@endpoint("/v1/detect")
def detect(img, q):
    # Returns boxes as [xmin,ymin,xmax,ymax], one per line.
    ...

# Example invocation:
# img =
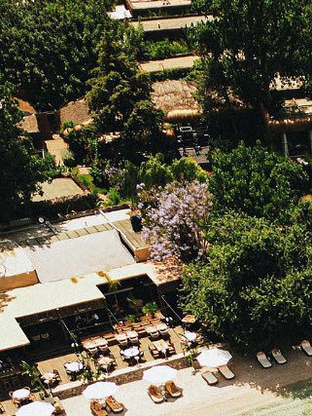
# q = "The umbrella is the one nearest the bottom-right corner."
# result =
[198,352,232,381]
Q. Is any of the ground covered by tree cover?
Yes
